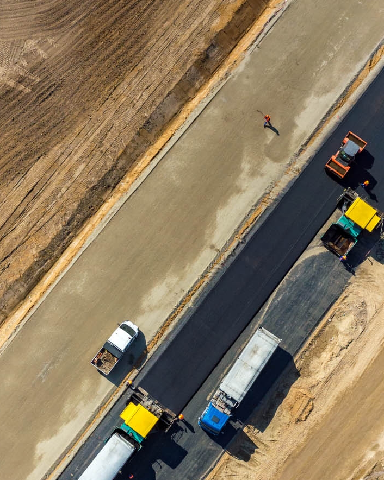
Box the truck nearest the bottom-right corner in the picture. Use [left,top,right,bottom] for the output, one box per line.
[195,325,283,440]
